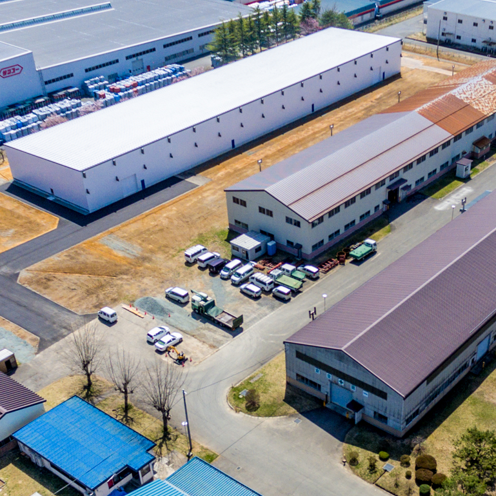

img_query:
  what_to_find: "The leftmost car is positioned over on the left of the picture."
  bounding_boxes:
[98,306,118,324]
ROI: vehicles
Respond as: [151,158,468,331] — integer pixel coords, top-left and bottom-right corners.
[183,244,208,263]
[178,285,246,327]
[154,334,183,353]
[299,266,322,280]
[98,306,118,324]
[352,237,375,256]
[272,284,292,300]
[172,340,184,364]
[248,272,274,291]
[219,259,243,278]
[231,263,255,283]
[196,253,220,269]
[268,267,302,289]
[239,284,263,298]
[243,255,261,266]
[164,286,189,303]
[145,328,170,345]
[281,259,305,278]
[209,259,227,274]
